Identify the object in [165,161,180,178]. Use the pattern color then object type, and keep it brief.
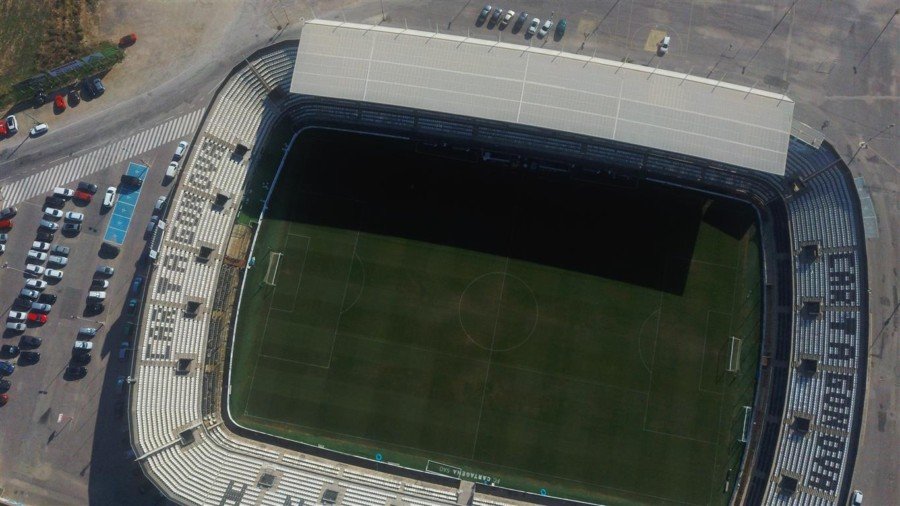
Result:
white car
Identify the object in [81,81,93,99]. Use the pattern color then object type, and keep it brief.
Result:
black vehicle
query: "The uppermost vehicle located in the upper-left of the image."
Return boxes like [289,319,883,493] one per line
[121,34,138,47]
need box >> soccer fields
[230,127,763,506]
